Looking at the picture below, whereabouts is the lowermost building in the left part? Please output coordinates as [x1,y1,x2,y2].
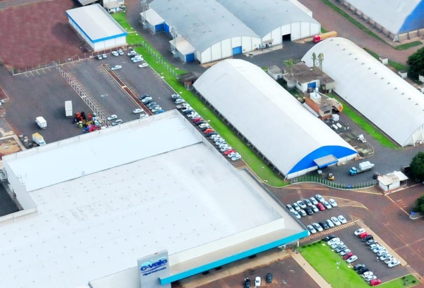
[0,104,308,288]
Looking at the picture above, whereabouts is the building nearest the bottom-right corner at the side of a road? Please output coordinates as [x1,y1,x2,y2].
[375,169,406,193]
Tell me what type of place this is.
industrial area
